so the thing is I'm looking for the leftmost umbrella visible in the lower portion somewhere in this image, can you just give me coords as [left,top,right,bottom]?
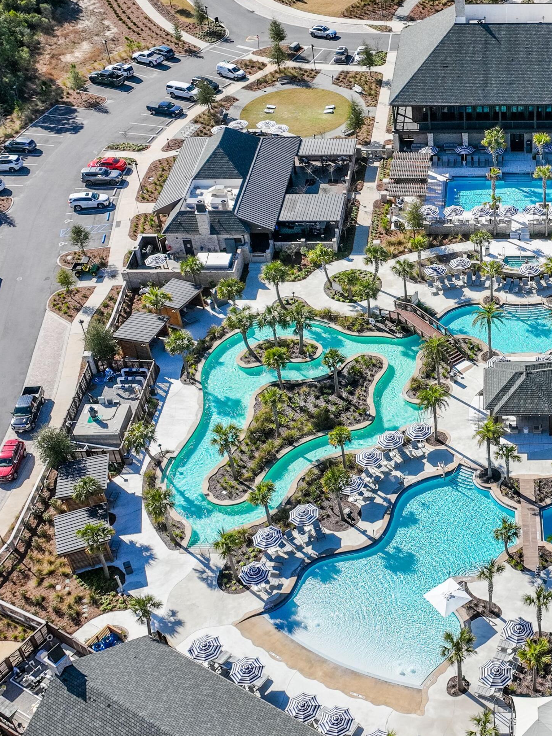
[191,637,225,669]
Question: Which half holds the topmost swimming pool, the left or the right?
right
